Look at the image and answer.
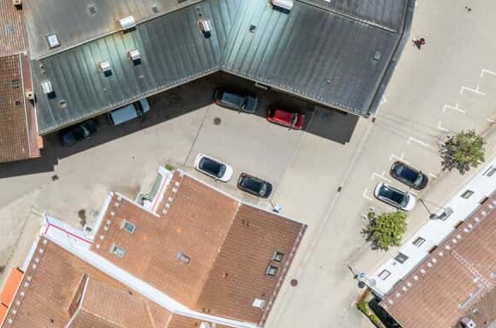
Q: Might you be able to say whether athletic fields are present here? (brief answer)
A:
No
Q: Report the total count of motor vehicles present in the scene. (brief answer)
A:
8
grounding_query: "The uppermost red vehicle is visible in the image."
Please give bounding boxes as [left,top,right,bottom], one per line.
[262,103,304,130]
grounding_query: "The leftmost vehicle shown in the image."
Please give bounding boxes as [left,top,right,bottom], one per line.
[57,116,99,146]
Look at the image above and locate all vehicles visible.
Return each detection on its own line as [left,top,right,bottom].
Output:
[104,96,151,128]
[368,179,414,210]
[208,86,257,113]
[231,169,273,198]
[382,158,427,190]
[262,103,304,130]
[189,150,232,181]
[57,116,99,146]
